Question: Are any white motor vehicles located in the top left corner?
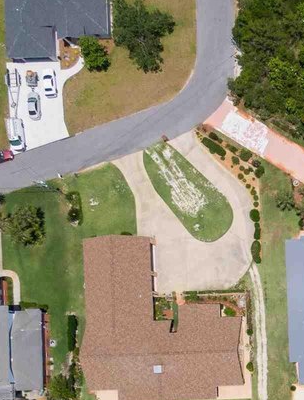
Yes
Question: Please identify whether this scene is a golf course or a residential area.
residential area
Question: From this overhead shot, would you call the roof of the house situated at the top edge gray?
Yes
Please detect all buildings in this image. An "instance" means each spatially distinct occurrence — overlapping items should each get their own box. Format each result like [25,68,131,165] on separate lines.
[0,280,51,400]
[4,0,114,62]
[79,236,246,400]
[286,235,304,385]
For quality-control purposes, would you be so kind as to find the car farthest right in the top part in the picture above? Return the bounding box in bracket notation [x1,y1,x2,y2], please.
[43,69,59,98]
